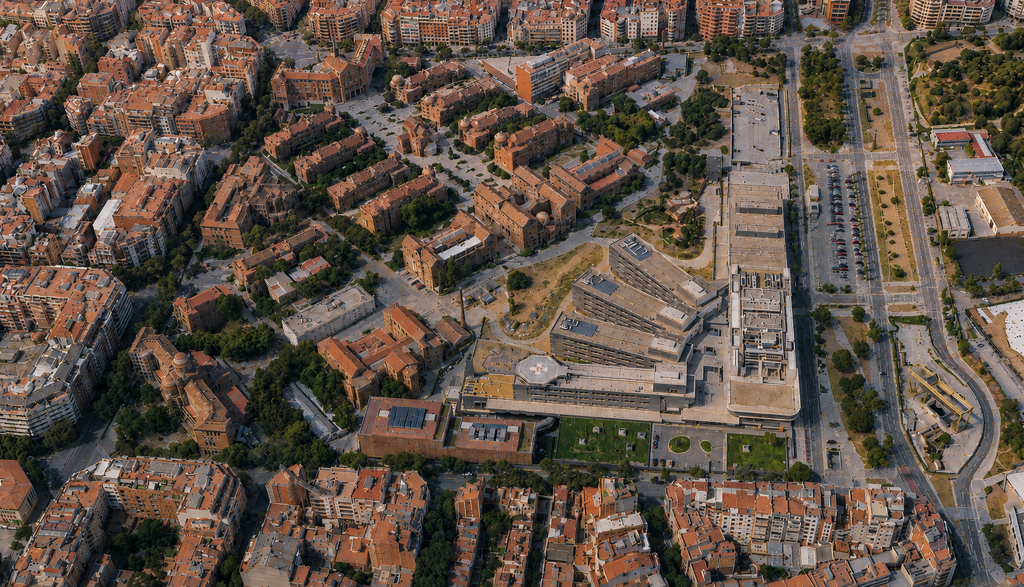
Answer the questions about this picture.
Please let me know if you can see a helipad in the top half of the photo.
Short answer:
No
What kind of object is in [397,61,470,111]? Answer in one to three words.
building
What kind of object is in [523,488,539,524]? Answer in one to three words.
house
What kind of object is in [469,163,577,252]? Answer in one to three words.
building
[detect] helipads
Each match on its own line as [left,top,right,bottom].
[513,351,564,387]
